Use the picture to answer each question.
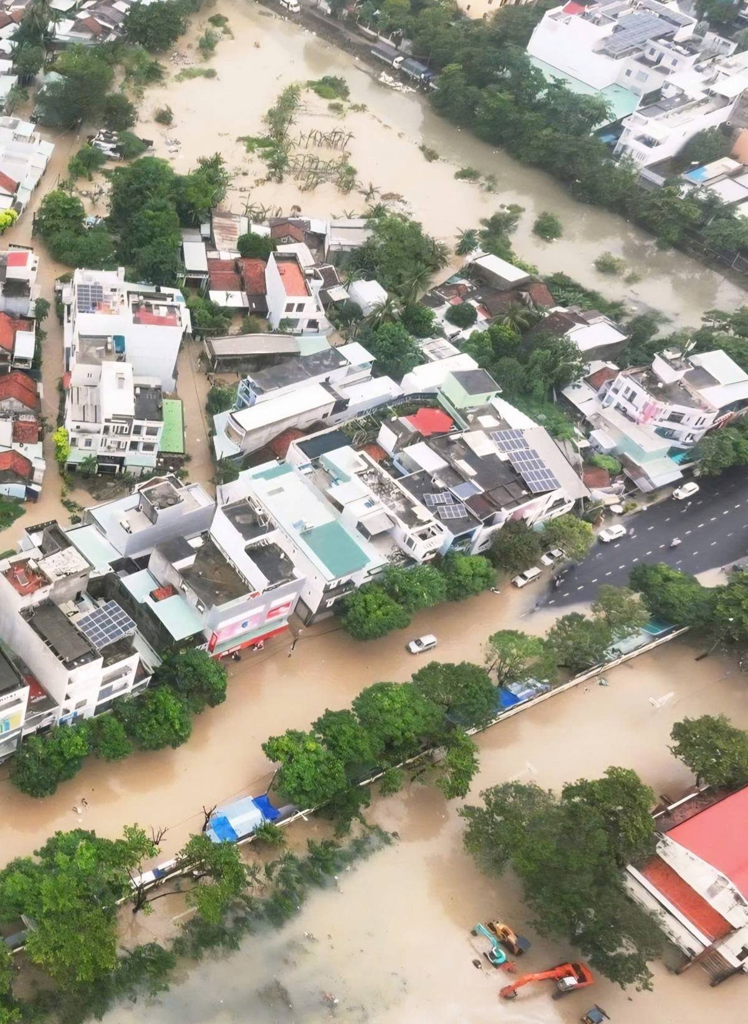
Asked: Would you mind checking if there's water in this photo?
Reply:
Yes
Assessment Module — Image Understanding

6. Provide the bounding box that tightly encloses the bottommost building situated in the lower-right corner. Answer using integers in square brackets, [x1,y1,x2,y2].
[637,785,748,988]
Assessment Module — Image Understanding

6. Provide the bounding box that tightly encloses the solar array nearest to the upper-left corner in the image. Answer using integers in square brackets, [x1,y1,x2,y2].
[77,285,103,315]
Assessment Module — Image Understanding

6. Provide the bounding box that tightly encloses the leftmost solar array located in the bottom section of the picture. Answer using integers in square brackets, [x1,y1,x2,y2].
[75,600,137,651]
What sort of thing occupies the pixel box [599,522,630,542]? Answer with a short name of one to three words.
car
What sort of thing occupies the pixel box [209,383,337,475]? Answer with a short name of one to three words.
house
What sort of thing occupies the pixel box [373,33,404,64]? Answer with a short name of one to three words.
truck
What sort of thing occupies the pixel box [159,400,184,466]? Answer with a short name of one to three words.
shed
